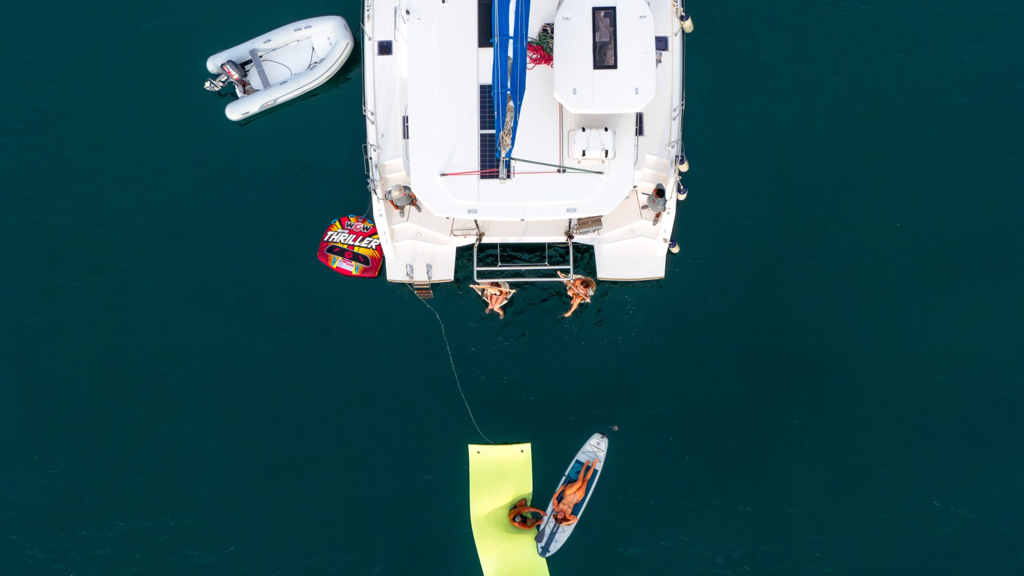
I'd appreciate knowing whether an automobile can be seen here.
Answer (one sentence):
No, there's no automobile here.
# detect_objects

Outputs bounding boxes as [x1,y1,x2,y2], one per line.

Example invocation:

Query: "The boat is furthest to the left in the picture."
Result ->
[201,13,355,121]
